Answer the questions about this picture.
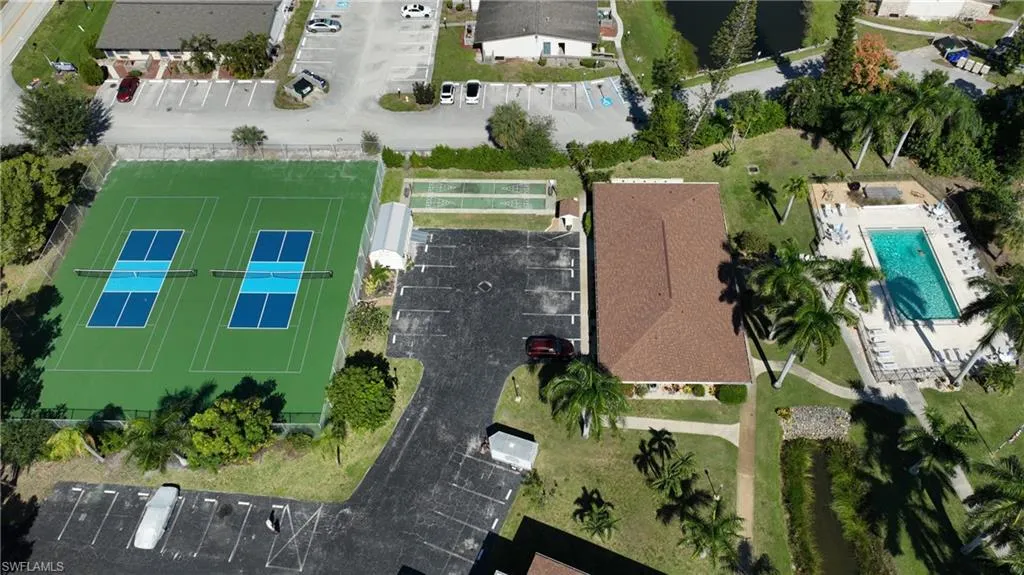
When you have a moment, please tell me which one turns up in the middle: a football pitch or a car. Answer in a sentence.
Visible in the middle is a car.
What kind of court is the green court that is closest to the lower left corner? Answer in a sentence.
It looks like the green court that is closest to the lower left corner is a tennis court.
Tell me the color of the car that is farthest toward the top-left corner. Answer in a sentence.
From above, the car that is farthest toward the top-left corner appears red.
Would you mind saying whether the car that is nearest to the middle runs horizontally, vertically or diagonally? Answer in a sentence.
The car that is nearest to the middle has been laid out horizontally relative to the frame.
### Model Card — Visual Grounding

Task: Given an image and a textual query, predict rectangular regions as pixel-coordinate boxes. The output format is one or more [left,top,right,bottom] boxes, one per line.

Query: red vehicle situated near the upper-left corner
[116,75,137,100]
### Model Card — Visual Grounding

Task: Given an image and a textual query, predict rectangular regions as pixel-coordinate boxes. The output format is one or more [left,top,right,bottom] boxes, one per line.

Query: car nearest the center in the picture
[526,335,575,361]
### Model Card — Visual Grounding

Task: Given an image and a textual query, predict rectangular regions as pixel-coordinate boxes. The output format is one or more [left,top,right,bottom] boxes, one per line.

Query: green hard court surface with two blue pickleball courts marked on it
[1,160,379,450]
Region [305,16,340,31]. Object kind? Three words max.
car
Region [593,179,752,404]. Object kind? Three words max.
building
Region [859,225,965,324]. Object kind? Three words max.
swimming pool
